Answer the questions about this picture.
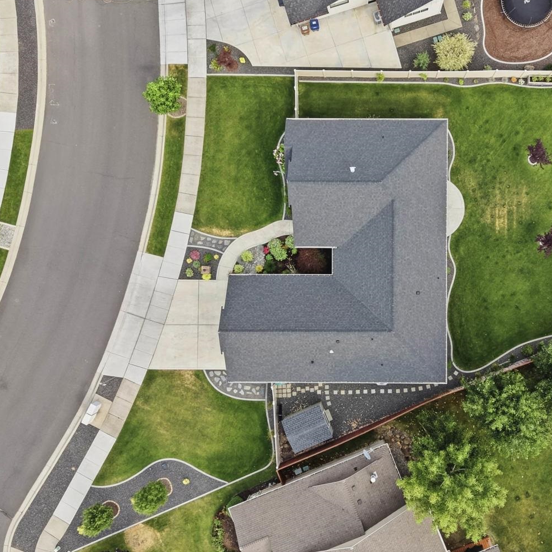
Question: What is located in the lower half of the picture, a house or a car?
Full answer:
Visible in the lower half of the picture is a house.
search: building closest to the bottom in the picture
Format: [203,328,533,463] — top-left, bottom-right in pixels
[227,442,451,552]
